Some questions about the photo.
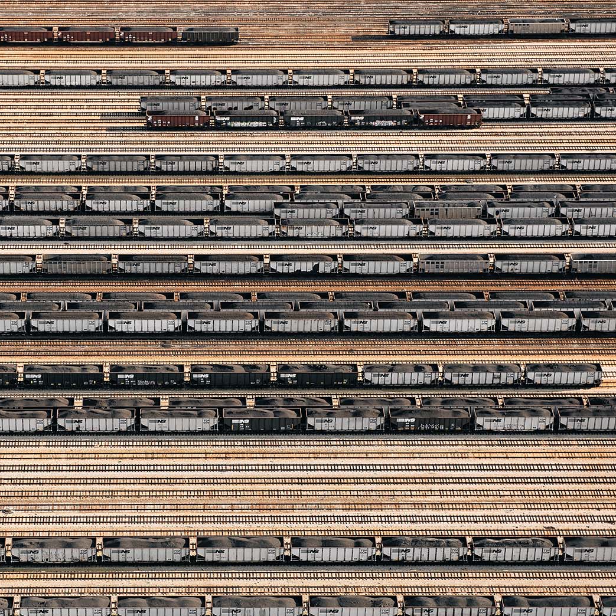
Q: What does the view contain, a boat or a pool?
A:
boat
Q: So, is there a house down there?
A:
No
